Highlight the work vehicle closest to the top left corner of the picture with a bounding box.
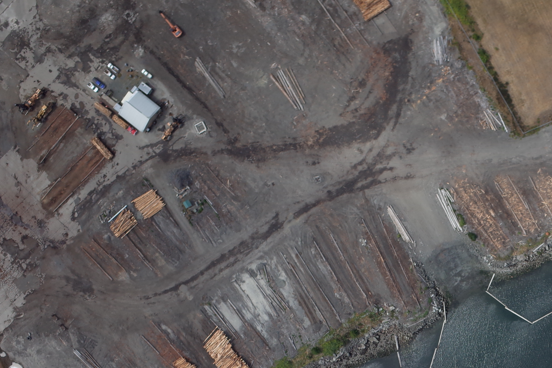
[18,90,44,113]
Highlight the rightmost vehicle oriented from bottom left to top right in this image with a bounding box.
[163,114,185,139]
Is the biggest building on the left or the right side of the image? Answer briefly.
left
